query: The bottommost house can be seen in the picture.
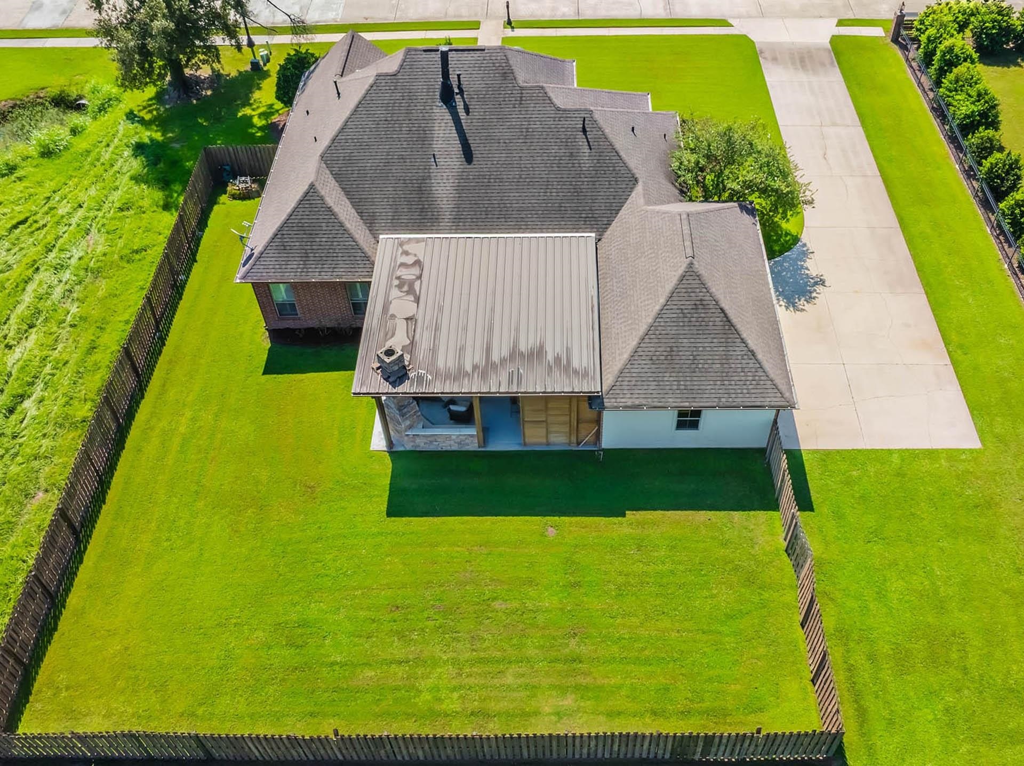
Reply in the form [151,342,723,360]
[231,29,801,453]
